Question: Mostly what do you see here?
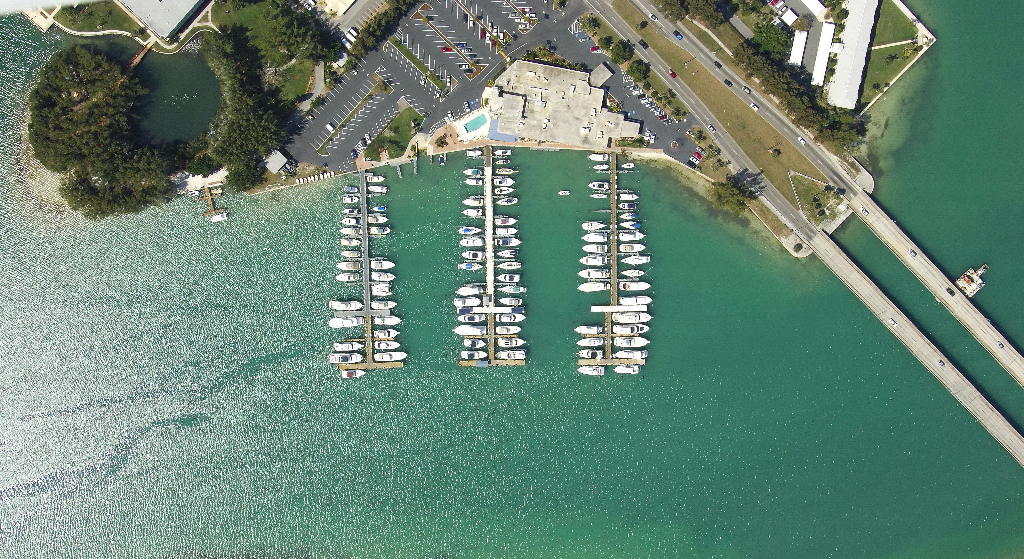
water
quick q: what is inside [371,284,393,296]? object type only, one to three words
boat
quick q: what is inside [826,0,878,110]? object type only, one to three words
building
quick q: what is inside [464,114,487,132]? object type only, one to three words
swimming pool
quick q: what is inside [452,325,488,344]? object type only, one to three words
boat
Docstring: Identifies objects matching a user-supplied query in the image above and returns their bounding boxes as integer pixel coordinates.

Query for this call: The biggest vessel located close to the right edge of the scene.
[955,268,984,296]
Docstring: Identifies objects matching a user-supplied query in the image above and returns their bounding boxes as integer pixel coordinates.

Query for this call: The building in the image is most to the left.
[122,0,204,39]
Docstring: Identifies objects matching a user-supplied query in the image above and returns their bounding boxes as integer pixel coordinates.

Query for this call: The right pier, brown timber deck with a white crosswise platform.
[578,151,647,366]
